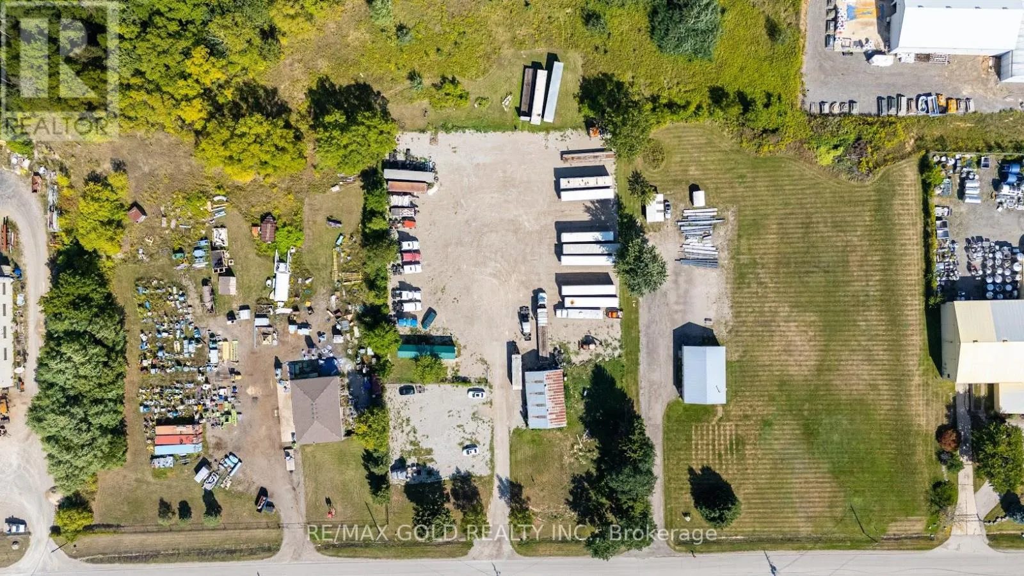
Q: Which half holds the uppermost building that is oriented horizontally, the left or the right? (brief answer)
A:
right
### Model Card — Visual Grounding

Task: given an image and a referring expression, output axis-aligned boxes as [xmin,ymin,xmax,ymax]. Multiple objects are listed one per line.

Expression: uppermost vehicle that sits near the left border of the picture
[32,175,45,193]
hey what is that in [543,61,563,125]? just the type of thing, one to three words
trailer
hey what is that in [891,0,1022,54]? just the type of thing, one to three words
building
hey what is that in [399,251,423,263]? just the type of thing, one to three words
vehicle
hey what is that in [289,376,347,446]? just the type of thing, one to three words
house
